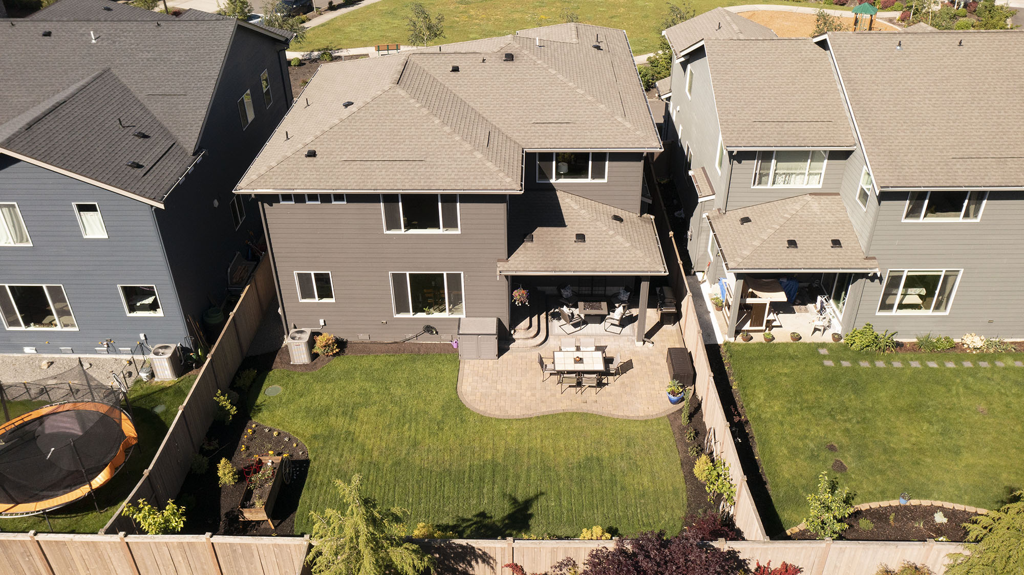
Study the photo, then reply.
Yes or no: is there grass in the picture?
Yes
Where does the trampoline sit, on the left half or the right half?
left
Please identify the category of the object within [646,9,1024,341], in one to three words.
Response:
house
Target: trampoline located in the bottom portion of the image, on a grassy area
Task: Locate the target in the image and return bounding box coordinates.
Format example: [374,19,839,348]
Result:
[0,354,149,533]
